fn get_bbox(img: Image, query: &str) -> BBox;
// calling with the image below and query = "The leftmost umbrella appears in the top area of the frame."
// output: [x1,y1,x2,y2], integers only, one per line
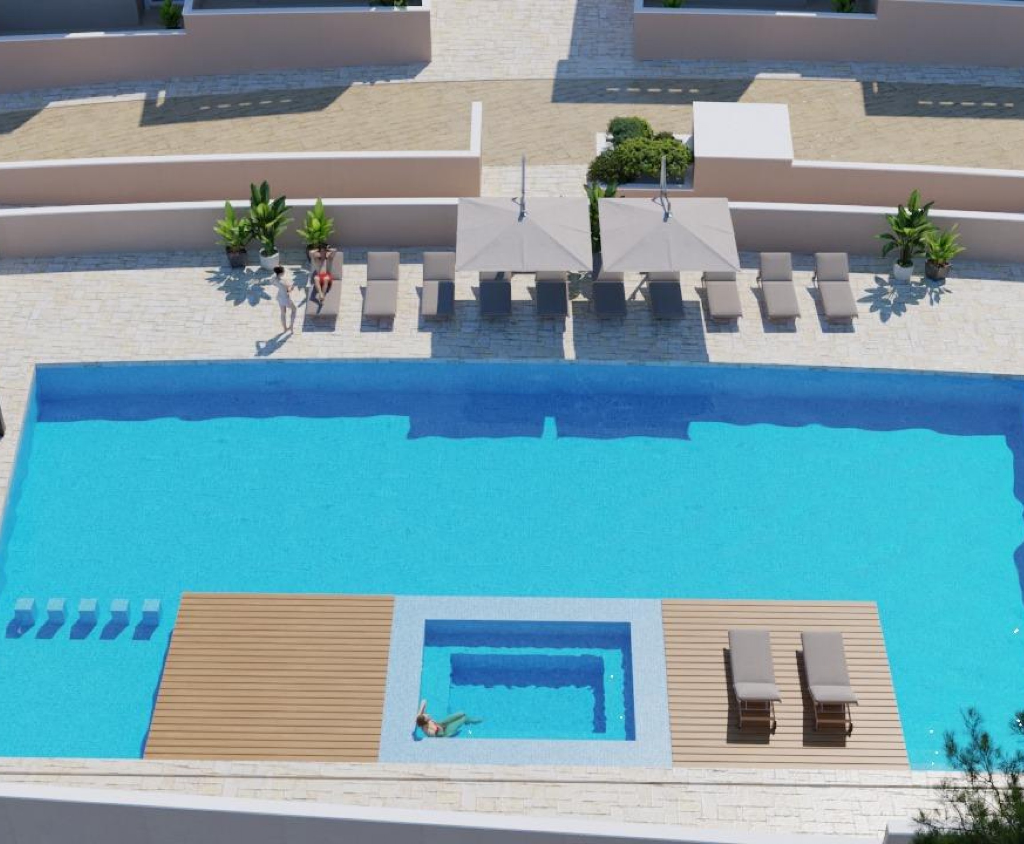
[456,155,593,272]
